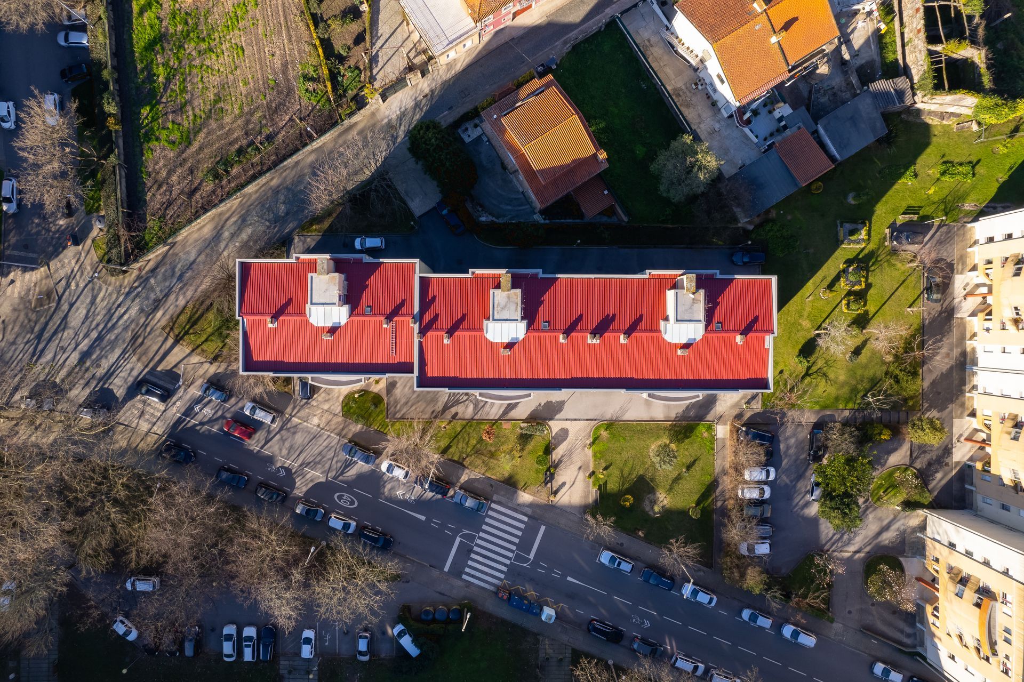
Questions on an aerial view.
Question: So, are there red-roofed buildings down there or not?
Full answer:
Yes, this view includes a red-roofed building.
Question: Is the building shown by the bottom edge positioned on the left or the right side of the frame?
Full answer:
It is on the right.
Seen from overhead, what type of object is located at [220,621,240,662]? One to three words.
car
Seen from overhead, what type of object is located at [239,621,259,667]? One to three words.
vehicle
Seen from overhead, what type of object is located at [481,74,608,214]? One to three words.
house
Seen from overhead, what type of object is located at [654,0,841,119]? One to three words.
house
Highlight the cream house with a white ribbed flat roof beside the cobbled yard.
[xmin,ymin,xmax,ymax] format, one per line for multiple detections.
[397,0,482,66]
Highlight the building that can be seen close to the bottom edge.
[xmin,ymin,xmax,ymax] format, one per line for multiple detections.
[913,510,1024,682]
